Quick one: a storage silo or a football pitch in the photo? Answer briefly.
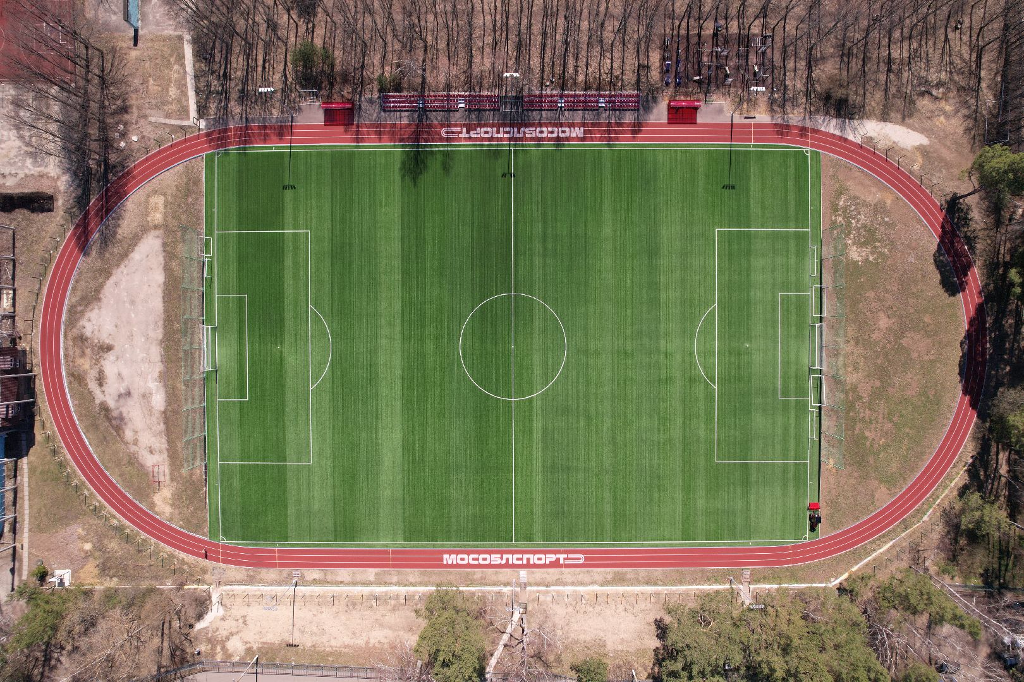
football pitch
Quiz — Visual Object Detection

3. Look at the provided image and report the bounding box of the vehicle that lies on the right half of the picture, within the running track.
[806,504,824,530]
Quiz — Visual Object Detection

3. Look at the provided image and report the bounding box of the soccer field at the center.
[204,144,821,547]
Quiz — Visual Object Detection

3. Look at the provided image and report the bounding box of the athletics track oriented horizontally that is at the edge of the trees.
[40,122,988,569]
